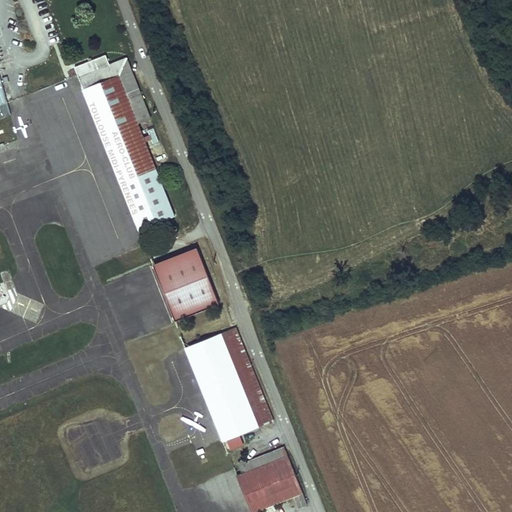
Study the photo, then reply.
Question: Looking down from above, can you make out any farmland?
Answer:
Yes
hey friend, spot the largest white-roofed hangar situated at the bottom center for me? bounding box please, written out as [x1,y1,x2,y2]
[185,326,274,442]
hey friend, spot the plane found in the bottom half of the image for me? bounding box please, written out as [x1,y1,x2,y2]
[180,412,206,432]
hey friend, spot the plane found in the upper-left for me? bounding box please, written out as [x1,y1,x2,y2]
[12,116,28,138]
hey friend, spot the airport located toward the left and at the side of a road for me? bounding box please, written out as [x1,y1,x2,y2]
[0,76,252,512]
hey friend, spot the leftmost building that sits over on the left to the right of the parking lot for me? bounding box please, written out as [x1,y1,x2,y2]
[74,55,126,88]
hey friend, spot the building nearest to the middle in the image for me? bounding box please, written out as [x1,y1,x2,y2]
[155,248,219,321]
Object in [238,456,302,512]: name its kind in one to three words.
building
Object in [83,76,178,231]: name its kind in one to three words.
hangar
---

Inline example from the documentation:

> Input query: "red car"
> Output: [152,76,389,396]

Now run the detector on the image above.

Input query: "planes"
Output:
[180,412,206,432]
[12,116,28,138]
